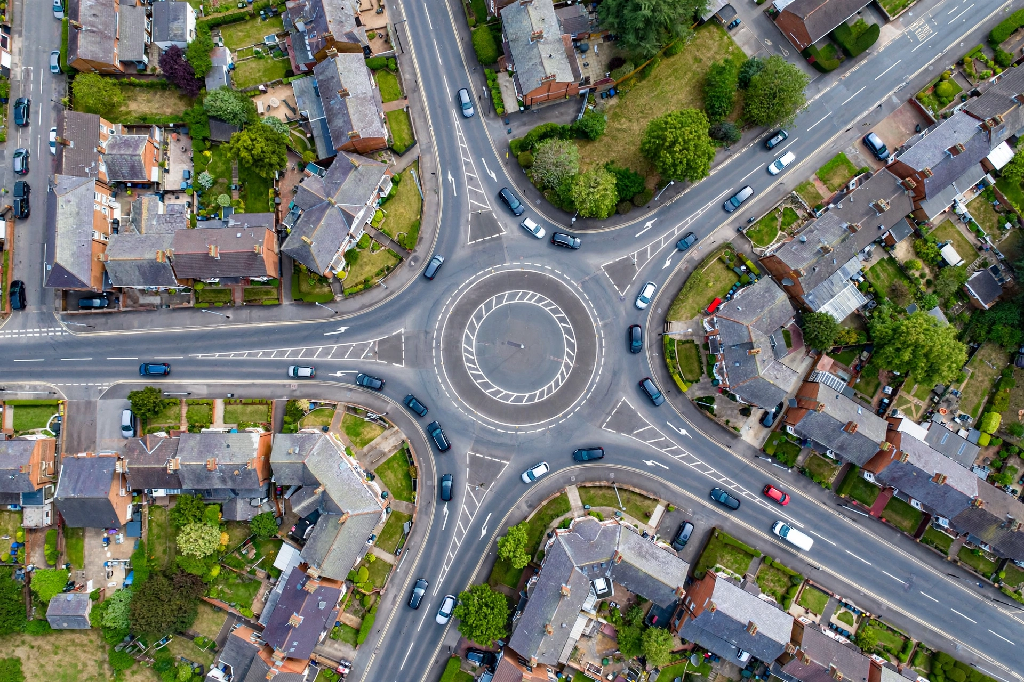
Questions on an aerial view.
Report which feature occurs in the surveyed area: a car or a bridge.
car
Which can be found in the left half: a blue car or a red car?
blue car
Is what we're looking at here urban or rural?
urban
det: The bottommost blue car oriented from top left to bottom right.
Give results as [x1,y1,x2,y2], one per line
[708,485,743,512]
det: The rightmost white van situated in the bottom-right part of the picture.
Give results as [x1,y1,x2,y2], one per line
[772,520,816,552]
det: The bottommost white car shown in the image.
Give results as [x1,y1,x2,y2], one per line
[436,592,456,624]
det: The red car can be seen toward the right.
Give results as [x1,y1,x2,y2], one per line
[759,482,790,506]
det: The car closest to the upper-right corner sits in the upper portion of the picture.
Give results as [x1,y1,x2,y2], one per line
[862,130,887,161]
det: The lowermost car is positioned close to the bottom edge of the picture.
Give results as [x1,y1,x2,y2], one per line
[465,648,495,667]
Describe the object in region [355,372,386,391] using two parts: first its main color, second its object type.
blue car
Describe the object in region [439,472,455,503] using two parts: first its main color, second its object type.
blue car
